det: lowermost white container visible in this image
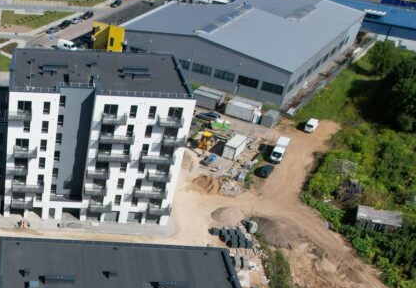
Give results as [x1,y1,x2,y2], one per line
[220,134,249,159]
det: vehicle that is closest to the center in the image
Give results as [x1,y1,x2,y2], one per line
[193,133,214,148]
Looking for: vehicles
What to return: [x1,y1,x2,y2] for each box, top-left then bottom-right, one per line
[80,12,95,19]
[192,111,215,121]
[304,116,317,132]
[44,28,61,35]
[193,133,214,148]
[255,165,271,178]
[69,17,83,24]
[57,37,76,48]
[272,131,291,158]
[58,21,74,29]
